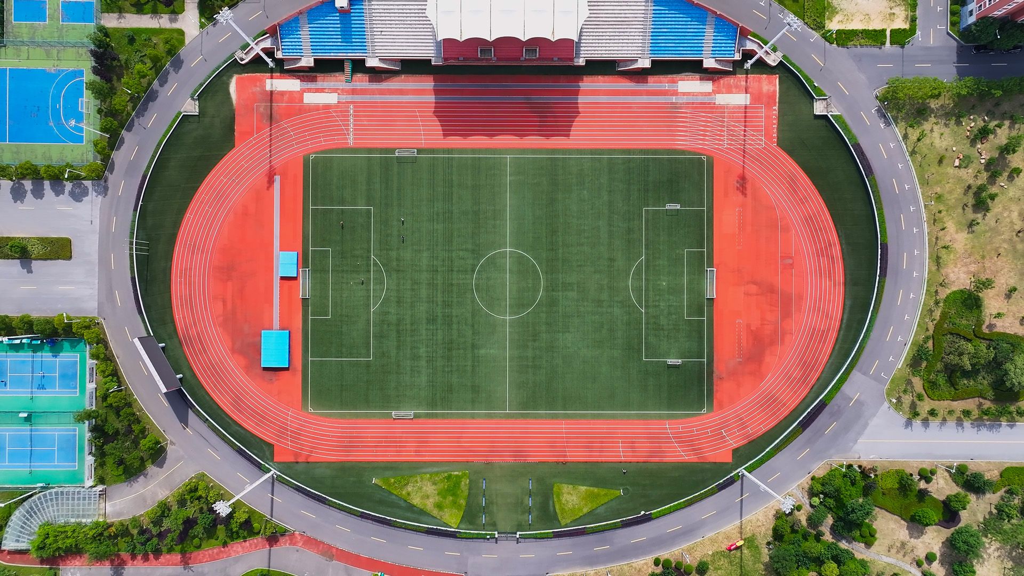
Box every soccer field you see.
[302,148,714,419]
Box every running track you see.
[171,74,845,462]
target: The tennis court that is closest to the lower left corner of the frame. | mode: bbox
[0,414,85,487]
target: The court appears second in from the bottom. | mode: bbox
[0,339,86,413]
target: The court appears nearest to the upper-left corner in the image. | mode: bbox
[4,0,53,46]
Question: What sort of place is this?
sports ground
